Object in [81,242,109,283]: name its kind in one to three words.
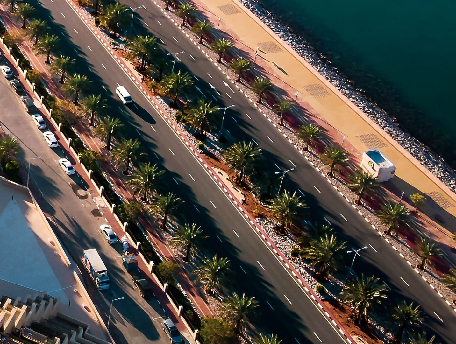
truck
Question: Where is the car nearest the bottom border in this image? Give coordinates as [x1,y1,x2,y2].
[154,313,177,338]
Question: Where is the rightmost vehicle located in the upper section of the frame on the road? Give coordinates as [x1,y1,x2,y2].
[116,84,134,105]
